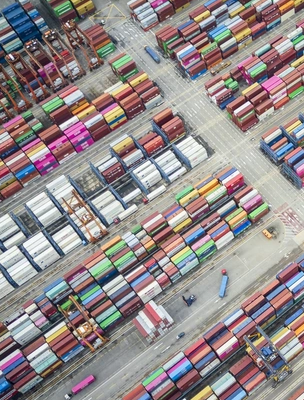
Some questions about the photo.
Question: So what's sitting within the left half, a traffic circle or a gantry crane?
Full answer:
You can see a gantry crane within the left half.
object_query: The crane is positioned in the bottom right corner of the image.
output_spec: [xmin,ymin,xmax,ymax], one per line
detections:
[239,325,292,387]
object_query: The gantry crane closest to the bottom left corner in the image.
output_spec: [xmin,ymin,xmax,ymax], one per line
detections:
[55,294,110,353]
